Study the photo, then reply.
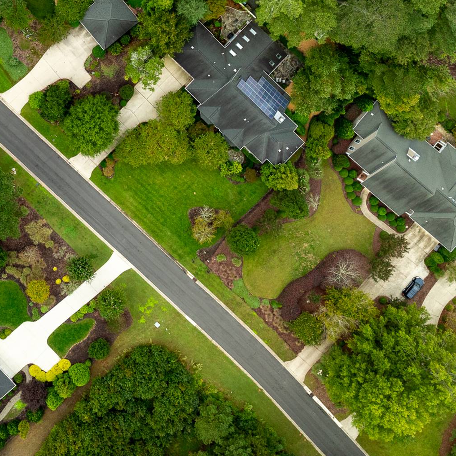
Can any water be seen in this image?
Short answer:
No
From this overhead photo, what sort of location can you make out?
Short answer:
residential area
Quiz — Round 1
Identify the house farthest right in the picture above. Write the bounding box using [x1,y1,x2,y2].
[347,98,456,252]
